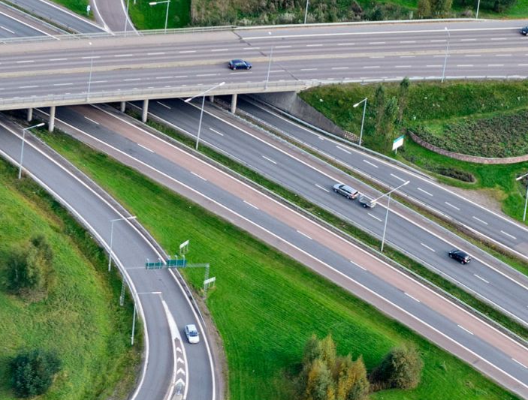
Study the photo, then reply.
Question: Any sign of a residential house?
No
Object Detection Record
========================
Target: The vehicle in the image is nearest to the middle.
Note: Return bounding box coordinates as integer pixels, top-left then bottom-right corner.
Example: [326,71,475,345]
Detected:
[332,183,360,198]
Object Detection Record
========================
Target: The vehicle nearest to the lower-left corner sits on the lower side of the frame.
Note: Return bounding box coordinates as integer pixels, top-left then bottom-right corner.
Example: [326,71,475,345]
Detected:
[185,324,199,344]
